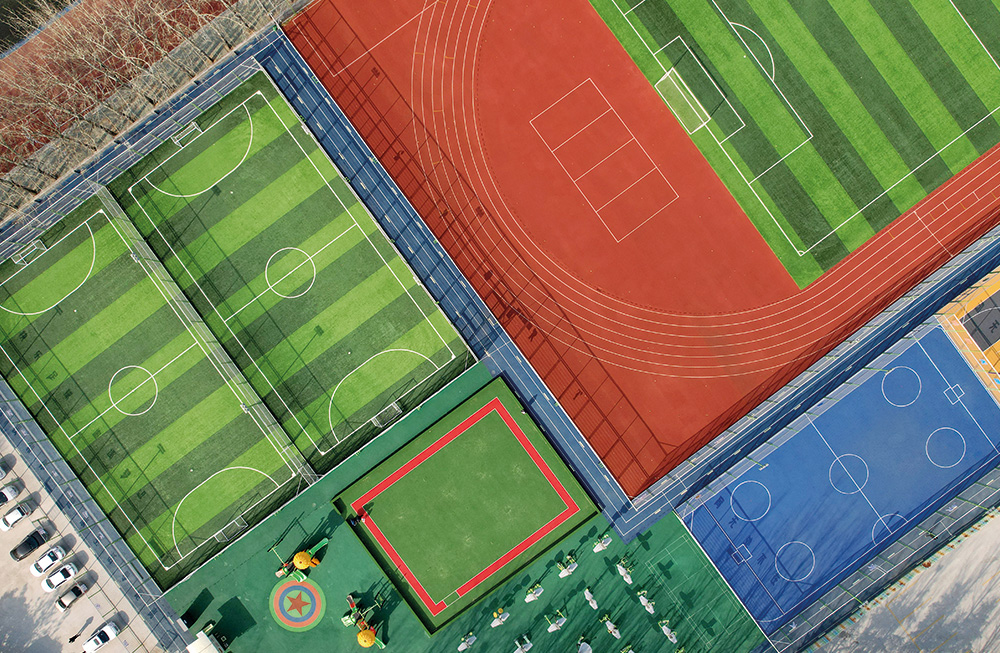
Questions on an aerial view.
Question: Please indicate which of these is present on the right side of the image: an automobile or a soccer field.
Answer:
soccer field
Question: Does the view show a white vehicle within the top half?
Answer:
No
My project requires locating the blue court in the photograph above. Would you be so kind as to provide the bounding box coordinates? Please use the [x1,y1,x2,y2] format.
[682,317,1000,634]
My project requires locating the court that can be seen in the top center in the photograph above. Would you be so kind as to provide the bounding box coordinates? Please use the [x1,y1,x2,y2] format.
[529,78,680,242]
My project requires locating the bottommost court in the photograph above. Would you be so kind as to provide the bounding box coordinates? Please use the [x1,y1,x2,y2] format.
[646,535,751,649]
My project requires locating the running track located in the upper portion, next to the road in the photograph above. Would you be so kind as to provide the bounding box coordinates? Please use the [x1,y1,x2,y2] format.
[277,0,1000,498]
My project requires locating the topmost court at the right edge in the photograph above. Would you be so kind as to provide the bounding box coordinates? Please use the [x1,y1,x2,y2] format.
[936,266,1000,403]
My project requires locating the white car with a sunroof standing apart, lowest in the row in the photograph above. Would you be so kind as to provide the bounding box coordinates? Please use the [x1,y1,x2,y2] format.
[82,619,123,653]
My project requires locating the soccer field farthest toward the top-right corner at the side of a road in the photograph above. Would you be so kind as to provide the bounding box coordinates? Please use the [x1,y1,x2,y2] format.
[589,0,1000,289]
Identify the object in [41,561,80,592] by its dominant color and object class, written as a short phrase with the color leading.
white car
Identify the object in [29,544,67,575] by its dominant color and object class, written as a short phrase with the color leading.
white car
